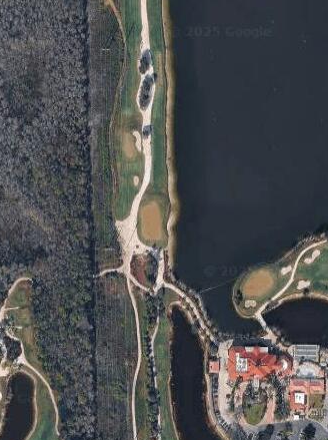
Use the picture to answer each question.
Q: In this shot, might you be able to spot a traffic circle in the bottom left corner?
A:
No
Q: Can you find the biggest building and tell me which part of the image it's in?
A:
bottom right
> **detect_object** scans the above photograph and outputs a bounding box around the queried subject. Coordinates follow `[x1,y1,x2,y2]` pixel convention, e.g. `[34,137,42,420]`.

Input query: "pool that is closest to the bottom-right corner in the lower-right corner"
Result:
[296,362,319,379]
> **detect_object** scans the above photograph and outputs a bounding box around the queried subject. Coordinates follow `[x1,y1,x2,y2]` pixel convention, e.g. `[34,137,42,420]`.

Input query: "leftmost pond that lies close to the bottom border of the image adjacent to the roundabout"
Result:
[171,302,221,440]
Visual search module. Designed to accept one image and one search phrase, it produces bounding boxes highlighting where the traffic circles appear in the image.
[235,380,274,431]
